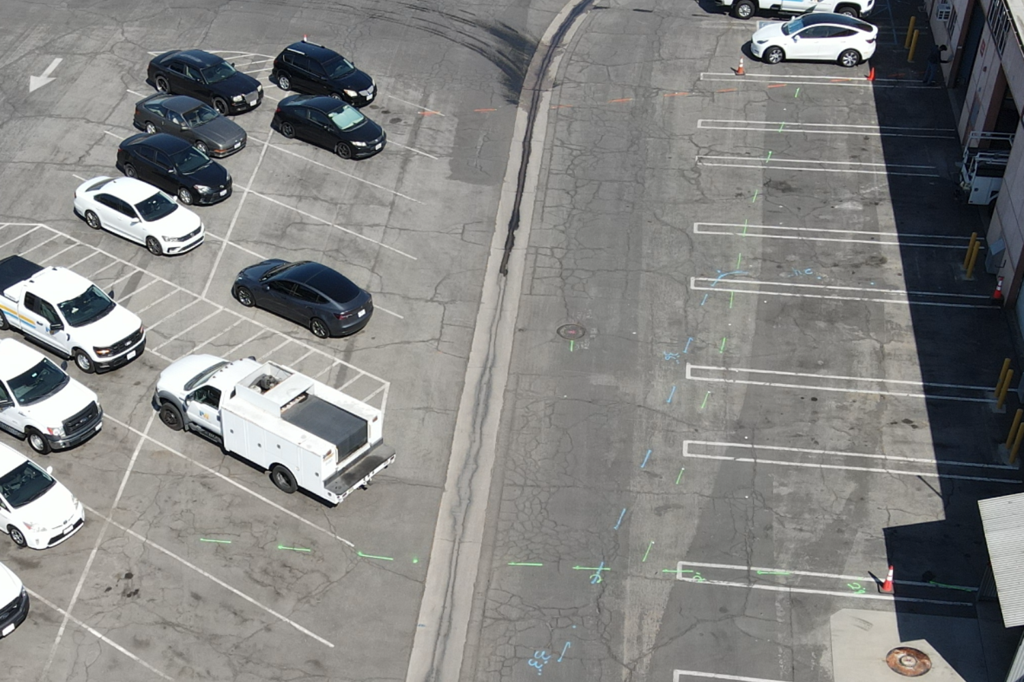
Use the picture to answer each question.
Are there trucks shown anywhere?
Yes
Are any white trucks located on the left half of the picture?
Yes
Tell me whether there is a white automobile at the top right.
Yes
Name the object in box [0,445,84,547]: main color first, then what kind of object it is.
white car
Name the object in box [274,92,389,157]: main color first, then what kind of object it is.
black car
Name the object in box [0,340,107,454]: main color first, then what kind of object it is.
white truck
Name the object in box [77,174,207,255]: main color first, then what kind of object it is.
white car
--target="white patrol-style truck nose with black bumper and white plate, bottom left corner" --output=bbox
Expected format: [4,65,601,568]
[0,569,30,636]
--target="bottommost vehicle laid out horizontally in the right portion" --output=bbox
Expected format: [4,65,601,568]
[750,10,881,66]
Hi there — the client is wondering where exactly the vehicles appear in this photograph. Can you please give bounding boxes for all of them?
[942,123,1015,205]
[115,130,234,202]
[274,92,389,157]
[0,254,149,372]
[0,569,30,636]
[137,90,249,153]
[0,340,107,454]
[148,352,397,509]
[710,0,873,18]
[0,445,84,547]
[750,10,881,66]
[77,174,207,255]
[149,47,269,114]
[272,35,379,105]
[237,255,377,338]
